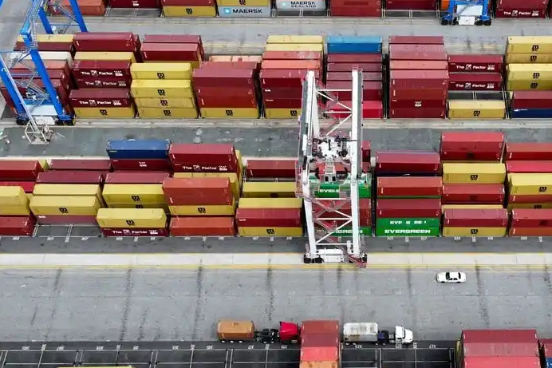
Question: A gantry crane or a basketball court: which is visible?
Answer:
gantry crane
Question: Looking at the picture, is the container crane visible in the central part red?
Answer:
No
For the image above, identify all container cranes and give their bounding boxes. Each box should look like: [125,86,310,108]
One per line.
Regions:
[292,66,369,268]
[0,0,84,125]
[443,0,492,24]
